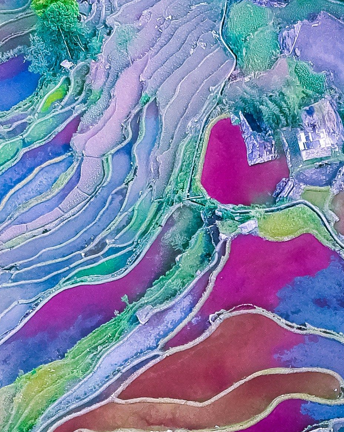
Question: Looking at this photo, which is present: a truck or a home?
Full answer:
I can see a home in this picture.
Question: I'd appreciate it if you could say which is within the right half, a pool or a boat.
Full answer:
You can see a pool within the right half.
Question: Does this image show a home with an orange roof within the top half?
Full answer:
No, no home with an orange roof is visible within the top half.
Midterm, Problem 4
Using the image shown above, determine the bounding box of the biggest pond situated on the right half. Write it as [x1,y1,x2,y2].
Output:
[203,119,288,205]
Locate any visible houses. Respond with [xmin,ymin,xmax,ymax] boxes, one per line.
[300,101,344,167]
[231,104,277,171]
